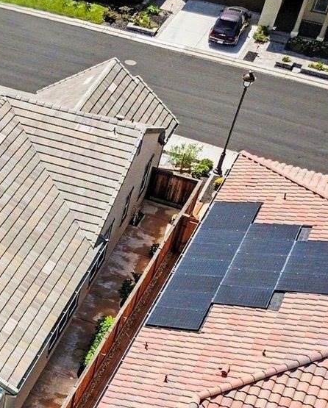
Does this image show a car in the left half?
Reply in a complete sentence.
No, in the left half there is no car.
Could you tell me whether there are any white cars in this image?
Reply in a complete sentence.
No, the frame has no white car in it.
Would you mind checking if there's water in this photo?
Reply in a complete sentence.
No, there is no water in the image.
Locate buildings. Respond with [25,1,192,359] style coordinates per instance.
[0,57,182,408]
[97,149,328,408]
[194,0,328,37]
